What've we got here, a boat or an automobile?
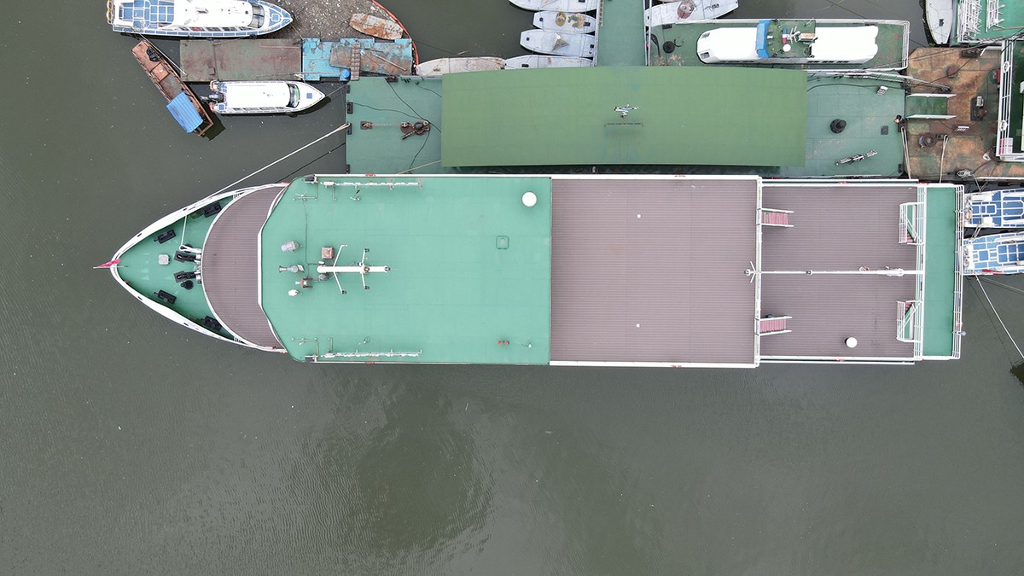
boat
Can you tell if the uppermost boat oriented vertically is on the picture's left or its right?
right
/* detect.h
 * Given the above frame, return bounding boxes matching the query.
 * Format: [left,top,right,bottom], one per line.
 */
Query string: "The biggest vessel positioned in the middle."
[93,175,966,367]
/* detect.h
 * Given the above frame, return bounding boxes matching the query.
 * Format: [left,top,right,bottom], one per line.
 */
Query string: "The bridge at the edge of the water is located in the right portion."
[596,0,650,68]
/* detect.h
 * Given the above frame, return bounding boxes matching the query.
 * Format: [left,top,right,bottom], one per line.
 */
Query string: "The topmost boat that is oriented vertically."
[923,0,945,46]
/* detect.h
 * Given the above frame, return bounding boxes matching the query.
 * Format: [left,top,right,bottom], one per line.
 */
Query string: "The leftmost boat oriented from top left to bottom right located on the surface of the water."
[132,40,214,136]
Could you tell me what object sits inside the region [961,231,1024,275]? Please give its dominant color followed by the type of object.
white boat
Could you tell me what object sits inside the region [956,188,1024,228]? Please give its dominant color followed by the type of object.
white boat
